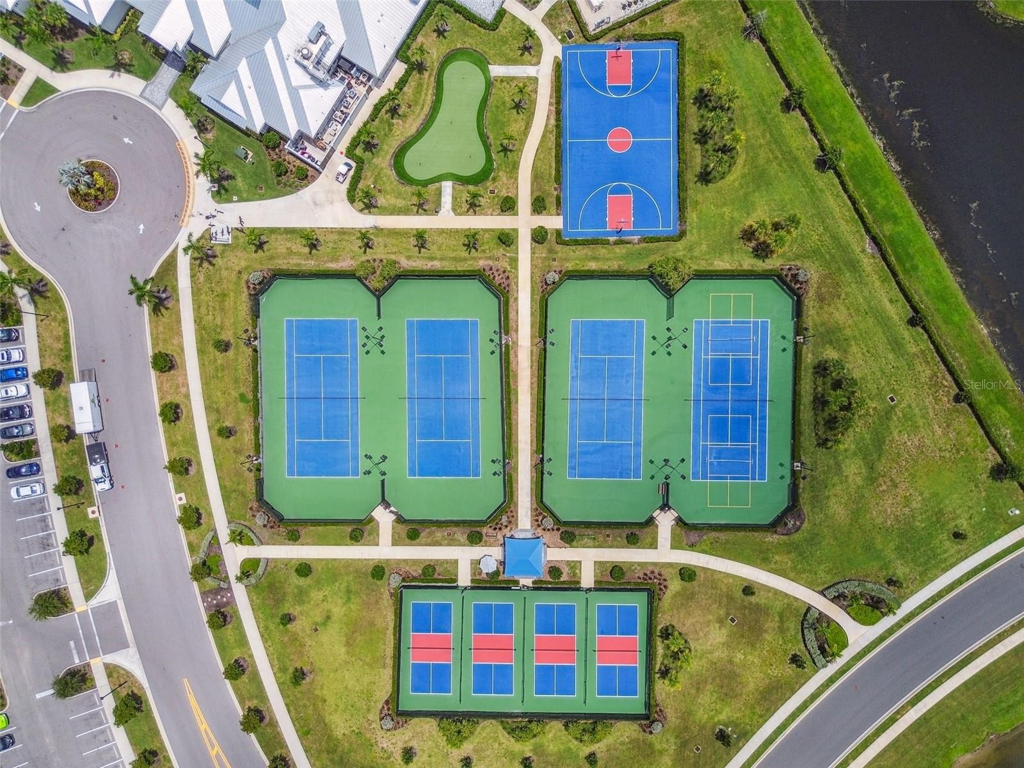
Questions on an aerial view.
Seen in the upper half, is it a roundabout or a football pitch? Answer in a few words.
roundabout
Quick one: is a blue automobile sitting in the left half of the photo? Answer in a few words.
Yes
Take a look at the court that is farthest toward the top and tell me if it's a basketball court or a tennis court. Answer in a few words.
basketball court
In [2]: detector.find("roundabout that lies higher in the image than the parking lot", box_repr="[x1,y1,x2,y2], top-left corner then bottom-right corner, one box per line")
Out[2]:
[66,158,120,213]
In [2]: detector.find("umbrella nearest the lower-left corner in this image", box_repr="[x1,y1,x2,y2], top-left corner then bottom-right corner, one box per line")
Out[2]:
[480,554,497,571]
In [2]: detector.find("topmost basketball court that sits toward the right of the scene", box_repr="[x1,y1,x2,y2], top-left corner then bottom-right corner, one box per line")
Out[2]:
[562,42,679,238]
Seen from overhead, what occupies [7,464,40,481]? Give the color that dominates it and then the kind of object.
blue car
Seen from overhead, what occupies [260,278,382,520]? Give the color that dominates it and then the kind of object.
green tennis court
